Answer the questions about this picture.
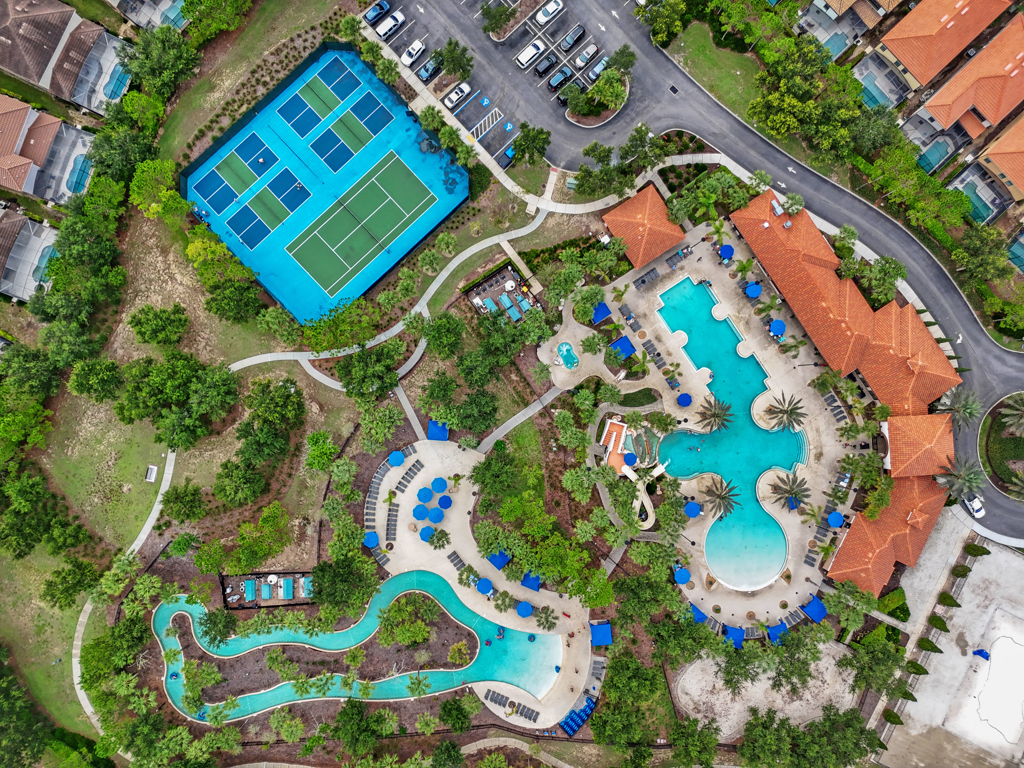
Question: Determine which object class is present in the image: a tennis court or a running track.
tennis court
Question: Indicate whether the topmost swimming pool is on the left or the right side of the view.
left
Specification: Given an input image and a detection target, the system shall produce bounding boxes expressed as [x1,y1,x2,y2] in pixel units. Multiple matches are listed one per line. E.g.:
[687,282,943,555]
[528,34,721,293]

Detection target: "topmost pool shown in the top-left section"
[159,3,184,29]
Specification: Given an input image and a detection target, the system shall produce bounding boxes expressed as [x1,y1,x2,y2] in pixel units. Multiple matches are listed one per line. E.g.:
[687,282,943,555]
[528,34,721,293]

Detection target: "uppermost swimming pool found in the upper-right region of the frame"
[820,30,851,66]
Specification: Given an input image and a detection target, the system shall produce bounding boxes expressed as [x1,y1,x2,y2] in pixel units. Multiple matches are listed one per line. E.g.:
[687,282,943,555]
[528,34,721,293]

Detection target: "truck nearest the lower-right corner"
[958,488,987,522]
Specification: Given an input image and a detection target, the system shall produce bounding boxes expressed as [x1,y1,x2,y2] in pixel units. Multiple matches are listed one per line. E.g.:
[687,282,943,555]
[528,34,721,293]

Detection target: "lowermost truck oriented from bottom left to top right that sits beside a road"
[489,145,519,175]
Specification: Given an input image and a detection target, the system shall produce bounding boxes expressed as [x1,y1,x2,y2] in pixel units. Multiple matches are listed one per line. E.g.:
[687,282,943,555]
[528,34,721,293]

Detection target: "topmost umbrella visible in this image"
[718,244,735,260]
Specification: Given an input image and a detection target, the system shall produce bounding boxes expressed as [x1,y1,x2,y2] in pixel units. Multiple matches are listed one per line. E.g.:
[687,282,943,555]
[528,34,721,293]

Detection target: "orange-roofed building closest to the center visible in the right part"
[602,183,687,270]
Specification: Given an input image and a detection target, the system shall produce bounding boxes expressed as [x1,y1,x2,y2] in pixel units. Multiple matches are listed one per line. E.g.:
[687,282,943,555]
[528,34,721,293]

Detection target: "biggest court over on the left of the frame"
[187,51,467,323]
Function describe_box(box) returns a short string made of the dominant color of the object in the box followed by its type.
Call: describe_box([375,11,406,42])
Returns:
white car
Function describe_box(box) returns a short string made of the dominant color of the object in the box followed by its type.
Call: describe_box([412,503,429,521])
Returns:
blue umbrella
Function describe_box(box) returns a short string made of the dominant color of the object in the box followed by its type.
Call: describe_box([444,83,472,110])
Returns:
white car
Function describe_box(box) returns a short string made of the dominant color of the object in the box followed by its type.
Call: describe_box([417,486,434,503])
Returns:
blue umbrella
